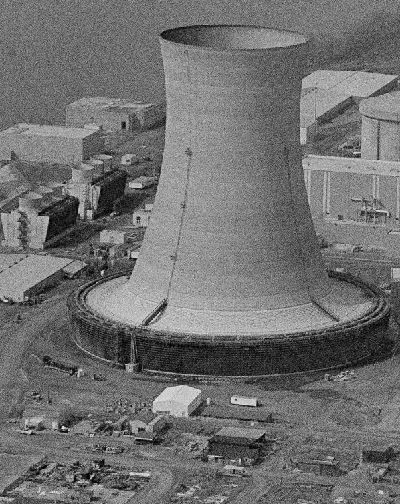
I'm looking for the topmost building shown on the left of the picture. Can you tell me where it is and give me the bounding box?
[67,99,167,144]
